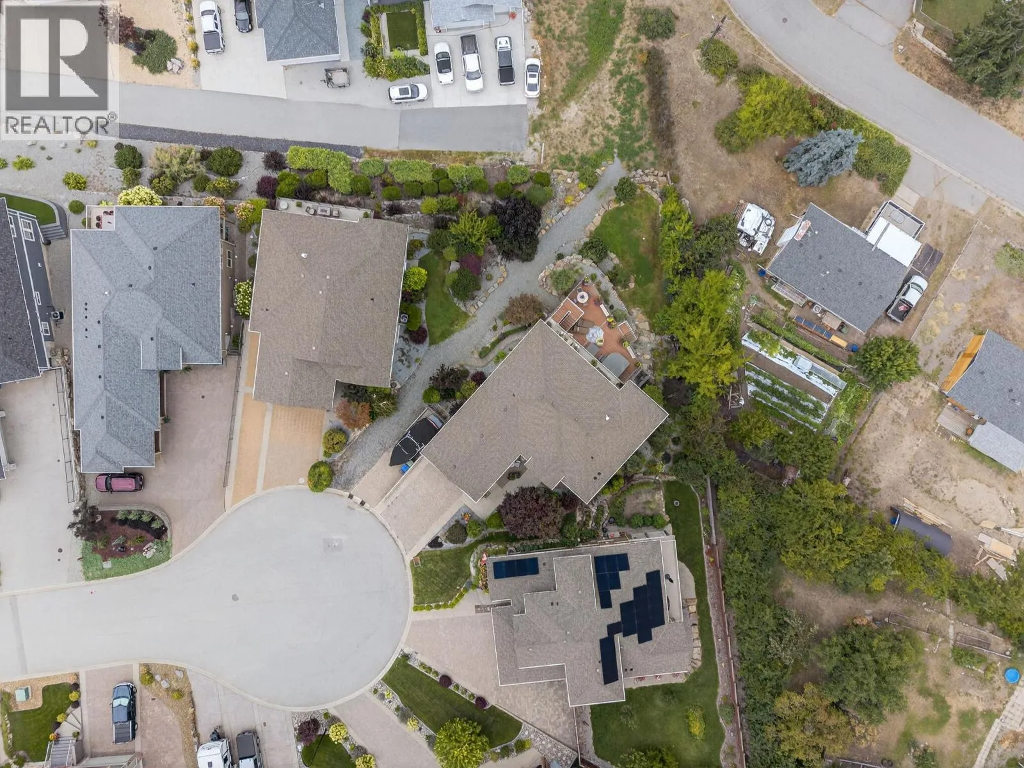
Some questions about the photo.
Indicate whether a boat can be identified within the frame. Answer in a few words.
Yes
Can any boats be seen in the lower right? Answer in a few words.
No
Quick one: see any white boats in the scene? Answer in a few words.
No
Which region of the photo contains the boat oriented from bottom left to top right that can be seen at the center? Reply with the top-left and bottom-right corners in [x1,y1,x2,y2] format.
[394,412,444,468]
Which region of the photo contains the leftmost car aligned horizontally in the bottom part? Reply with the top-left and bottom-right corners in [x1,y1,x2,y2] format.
[98,472,147,495]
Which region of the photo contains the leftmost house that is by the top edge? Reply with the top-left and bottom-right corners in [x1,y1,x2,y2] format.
[259,0,343,73]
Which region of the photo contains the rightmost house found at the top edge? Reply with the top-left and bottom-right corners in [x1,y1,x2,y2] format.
[430,0,524,39]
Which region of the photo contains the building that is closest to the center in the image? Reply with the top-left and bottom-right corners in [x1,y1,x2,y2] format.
[420,319,669,505]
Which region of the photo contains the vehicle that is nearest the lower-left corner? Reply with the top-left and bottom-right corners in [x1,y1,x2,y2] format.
[109,679,140,744]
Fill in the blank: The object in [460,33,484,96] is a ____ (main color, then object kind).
white truck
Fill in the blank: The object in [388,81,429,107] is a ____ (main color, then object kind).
white car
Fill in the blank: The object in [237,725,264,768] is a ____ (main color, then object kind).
gray truck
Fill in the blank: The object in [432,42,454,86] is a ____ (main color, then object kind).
white car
